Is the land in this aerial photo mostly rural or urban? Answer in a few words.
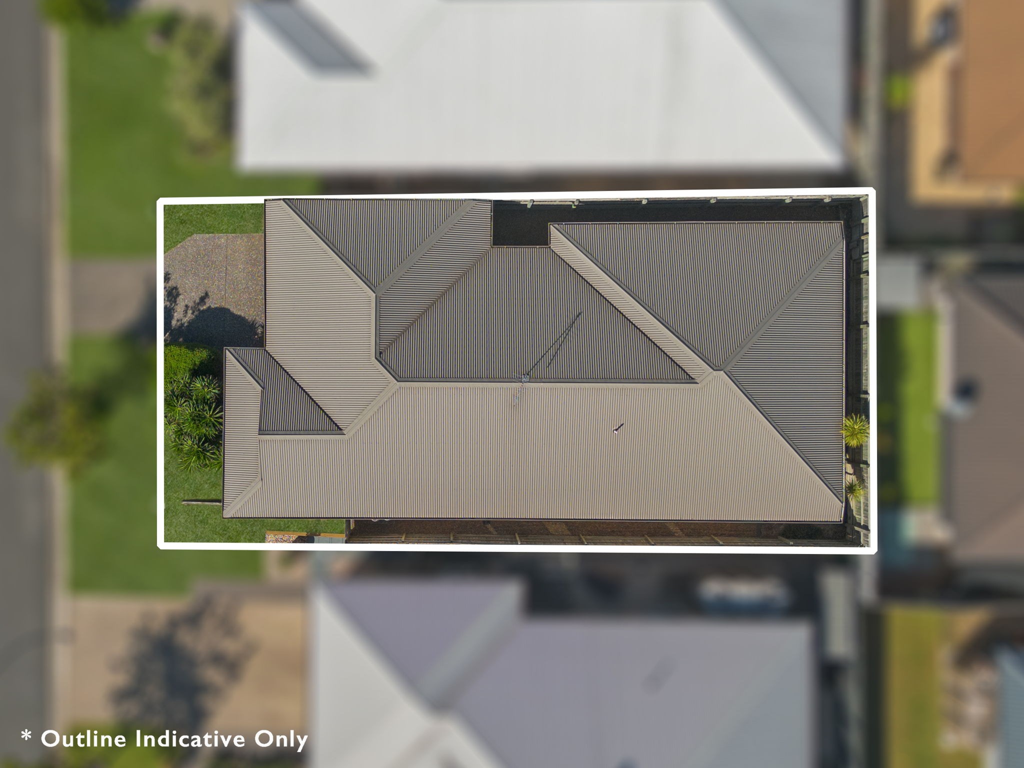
urban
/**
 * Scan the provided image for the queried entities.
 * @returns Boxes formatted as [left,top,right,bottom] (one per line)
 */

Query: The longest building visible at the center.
[223,195,849,522]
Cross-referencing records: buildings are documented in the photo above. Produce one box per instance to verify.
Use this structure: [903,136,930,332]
[313,575,810,768]
[975,642,1024,768]
[952,0,1024,182]
[223,195,849,522]
[852,259,922,311]
[240,0,847,179]
[935,274,1024,561]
